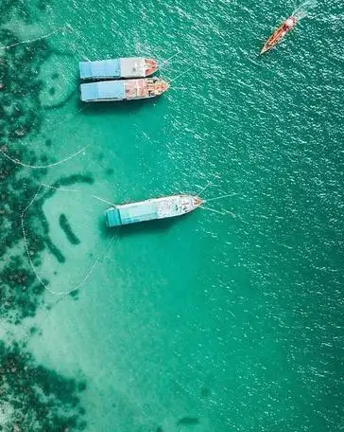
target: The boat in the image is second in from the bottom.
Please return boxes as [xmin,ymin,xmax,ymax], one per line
[55,70,190,125]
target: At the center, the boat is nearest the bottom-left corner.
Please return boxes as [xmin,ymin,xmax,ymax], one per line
[92,184,238,273]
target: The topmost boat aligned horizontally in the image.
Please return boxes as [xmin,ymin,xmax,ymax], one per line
[79,53,179,79]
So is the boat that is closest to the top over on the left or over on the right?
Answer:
right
